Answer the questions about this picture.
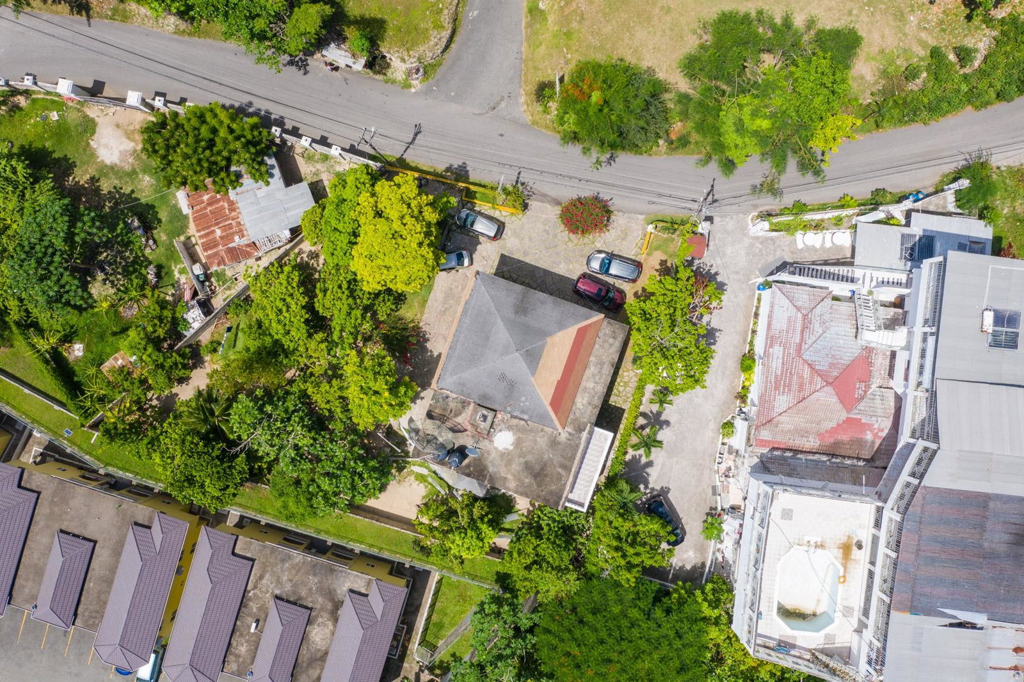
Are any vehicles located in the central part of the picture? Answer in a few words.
Yes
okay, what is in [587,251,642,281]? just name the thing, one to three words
car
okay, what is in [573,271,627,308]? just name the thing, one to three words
car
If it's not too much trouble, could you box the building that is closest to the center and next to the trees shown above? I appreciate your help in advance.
[392,273,628,511]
